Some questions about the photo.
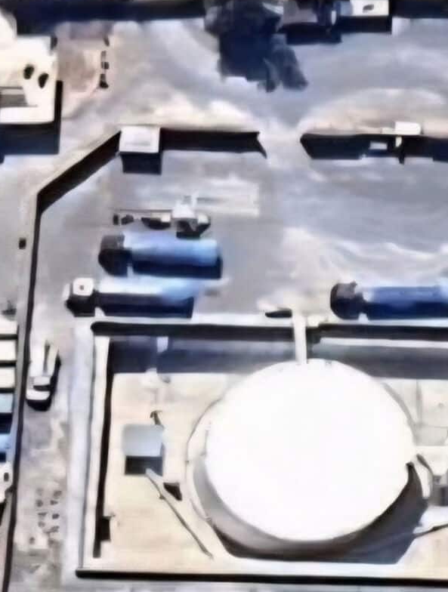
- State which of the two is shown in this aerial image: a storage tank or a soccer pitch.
storage tank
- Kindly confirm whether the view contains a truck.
Yes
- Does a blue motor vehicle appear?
Yes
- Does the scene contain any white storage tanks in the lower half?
Yes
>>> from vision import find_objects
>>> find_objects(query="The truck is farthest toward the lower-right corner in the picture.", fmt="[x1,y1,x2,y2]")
[331,283,448,315]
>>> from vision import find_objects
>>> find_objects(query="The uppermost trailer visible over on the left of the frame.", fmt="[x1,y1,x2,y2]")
[114,198,208,234]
